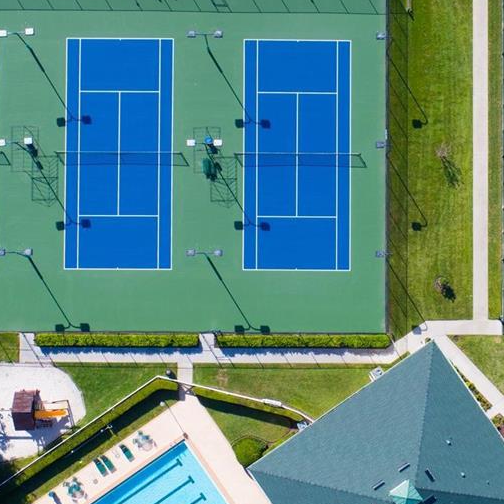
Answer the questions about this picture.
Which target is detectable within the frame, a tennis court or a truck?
tennis court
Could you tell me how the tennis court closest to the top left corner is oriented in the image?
vertically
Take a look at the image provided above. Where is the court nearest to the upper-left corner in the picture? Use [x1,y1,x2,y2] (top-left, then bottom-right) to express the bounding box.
[64,37,174,270]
